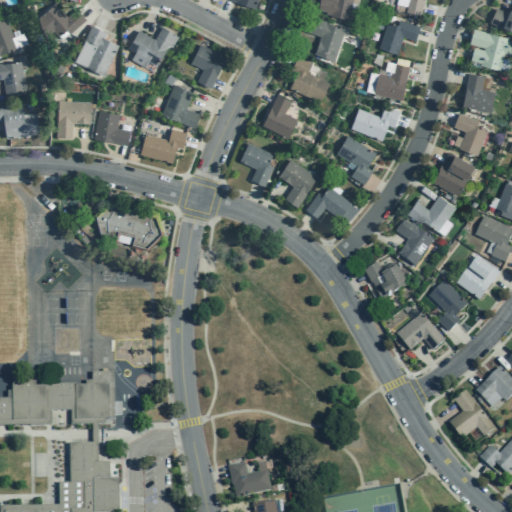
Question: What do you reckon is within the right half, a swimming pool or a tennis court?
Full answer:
There is a tennis court within the right half.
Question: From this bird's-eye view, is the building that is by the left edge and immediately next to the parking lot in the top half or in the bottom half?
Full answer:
The building that is by the left edge and immediately next to the parking lot sits in the bottom half of the picture.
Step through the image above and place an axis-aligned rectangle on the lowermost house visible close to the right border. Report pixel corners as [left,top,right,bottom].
[478,442,512,478]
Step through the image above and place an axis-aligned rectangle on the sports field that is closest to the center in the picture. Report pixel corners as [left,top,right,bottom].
[96,286,152,339]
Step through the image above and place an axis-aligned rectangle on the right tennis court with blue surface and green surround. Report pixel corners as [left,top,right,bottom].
[365,484,404,512]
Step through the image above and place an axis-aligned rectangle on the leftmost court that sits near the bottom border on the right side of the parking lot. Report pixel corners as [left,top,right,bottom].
[325,490,368,512]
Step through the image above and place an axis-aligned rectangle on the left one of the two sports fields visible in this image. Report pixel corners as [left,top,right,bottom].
[0,182,28,364]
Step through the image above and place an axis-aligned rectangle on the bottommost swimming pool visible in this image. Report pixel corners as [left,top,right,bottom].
[120,60,154,84]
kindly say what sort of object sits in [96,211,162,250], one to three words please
building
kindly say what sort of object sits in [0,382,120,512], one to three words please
building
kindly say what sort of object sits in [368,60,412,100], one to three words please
house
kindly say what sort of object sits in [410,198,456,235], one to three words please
house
